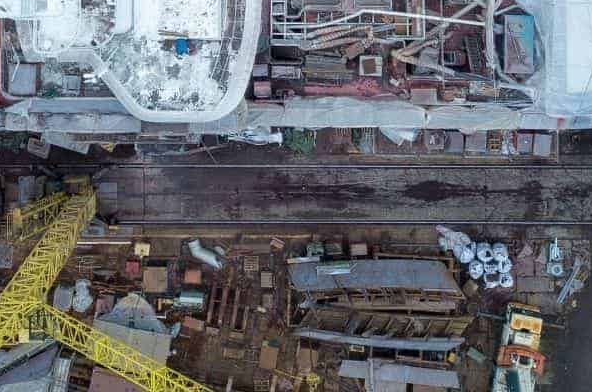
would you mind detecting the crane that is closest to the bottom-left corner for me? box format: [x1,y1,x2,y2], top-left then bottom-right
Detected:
[0,166,235,392]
